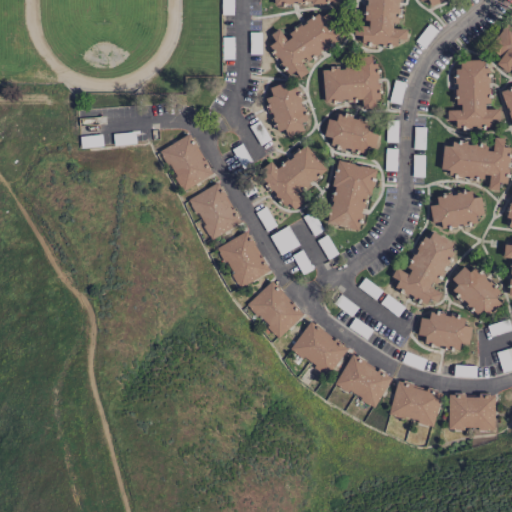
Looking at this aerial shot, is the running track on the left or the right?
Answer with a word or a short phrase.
left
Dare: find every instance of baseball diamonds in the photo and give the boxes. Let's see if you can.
[39,0,170,80]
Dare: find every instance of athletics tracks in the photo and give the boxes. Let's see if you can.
[26,0,182,92]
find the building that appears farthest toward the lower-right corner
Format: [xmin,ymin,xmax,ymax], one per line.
[450,394,498,431]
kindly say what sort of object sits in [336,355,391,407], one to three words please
house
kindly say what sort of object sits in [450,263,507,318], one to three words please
building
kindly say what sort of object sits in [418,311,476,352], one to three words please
building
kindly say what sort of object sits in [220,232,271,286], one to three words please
house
